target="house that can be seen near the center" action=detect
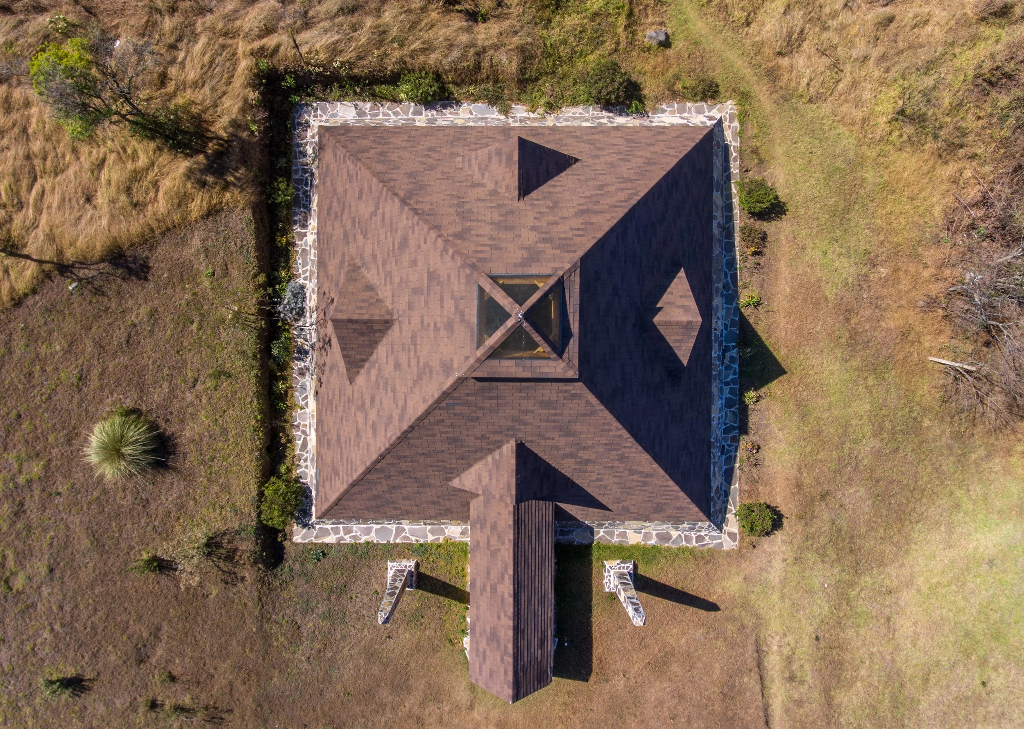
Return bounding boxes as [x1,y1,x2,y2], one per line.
[309,116,724,704]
